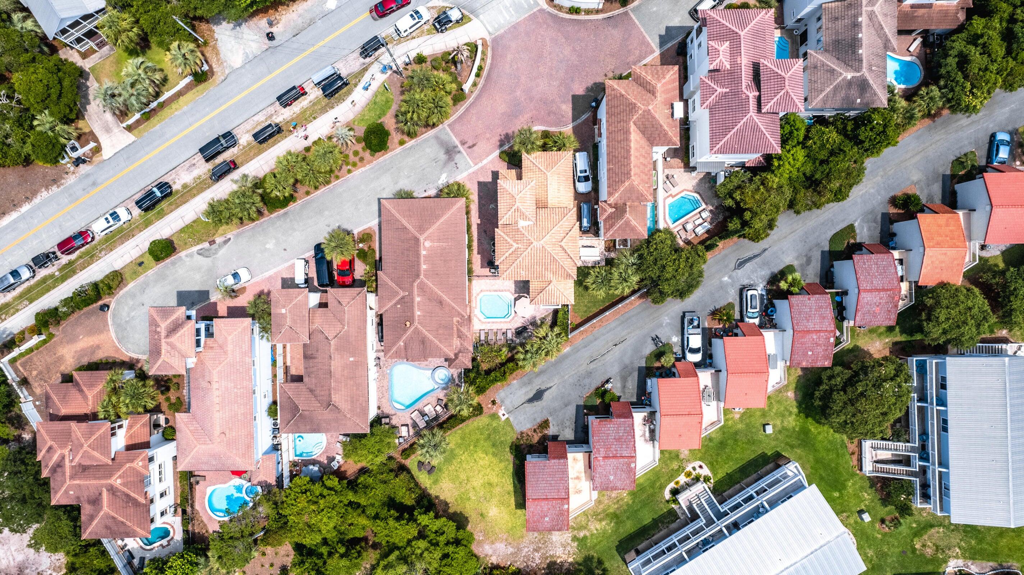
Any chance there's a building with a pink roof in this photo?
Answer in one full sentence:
Yes, the photo shows a building with a pink roof.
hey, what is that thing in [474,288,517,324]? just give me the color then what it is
white swimming pool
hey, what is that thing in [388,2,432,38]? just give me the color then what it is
white car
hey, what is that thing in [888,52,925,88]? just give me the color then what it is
blue swimming pool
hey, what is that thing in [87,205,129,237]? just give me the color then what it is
white car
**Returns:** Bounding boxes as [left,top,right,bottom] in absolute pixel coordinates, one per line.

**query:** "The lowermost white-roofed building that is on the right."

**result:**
[618,464,867,575]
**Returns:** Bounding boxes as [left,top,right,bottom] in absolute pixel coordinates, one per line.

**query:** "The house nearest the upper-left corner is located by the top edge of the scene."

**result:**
[21,0,144,67]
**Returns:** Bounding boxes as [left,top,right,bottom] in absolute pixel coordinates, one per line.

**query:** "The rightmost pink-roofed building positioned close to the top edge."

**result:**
[675,7,805,184]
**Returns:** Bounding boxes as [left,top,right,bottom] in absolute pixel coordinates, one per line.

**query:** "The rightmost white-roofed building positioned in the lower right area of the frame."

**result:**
[859,353,1024,527]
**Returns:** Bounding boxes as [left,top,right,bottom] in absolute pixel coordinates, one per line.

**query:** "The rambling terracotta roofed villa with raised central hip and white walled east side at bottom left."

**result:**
[35,371,176,539]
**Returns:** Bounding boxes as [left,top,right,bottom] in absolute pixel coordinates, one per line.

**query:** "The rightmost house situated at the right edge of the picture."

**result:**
[956,164,1024,245]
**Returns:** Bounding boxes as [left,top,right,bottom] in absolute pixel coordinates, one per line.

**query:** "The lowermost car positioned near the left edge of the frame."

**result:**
[0,267,34,300]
